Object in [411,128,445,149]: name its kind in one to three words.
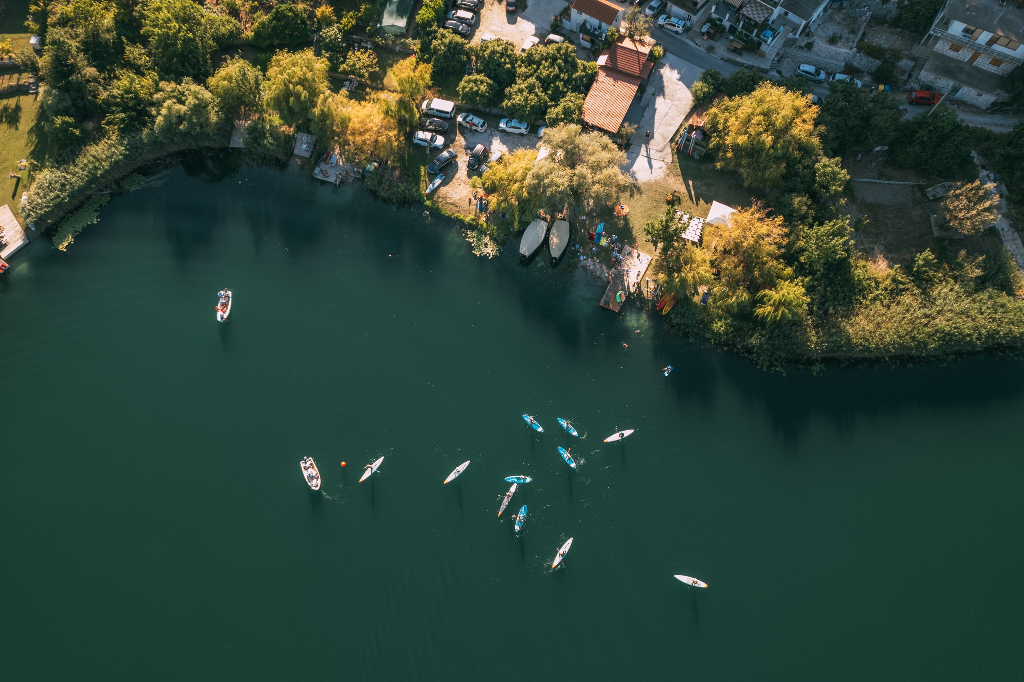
car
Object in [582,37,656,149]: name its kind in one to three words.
building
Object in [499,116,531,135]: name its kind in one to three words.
car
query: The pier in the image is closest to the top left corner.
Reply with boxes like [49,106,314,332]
[0,206,32,260]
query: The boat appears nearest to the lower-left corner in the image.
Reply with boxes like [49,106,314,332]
[300,456,320,491]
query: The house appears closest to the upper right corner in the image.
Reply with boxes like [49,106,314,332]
[910,0,1024,113]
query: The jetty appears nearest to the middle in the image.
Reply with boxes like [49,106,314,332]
[599,246,652,315]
